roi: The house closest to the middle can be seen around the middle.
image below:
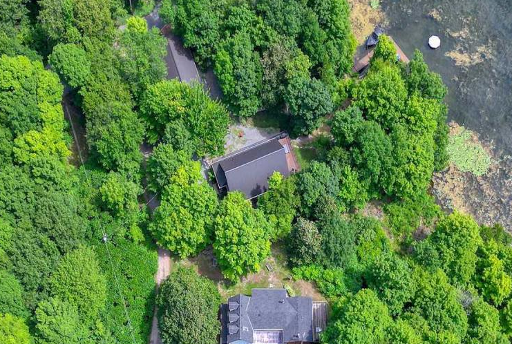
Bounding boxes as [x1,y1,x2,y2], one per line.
[212,132,299,201]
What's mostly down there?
trees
